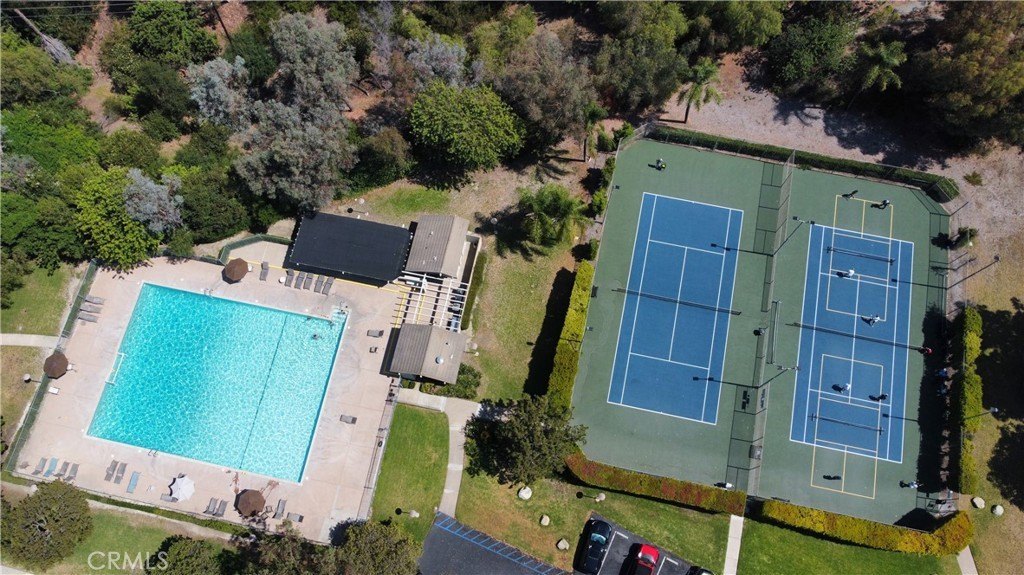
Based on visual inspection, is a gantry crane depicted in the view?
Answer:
No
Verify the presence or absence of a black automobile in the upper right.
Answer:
No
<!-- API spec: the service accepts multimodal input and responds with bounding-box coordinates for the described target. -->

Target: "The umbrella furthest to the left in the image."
[46,353,71,378]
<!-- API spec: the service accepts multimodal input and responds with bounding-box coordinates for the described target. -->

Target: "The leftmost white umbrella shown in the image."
[170,475,196,502]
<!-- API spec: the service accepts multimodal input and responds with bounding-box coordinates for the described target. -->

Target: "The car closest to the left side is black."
[577,520,611,575]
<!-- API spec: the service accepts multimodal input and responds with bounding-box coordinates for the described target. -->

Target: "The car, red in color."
[630,542,658,575]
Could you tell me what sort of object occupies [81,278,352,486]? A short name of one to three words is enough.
swimming pool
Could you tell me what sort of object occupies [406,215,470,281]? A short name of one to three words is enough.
building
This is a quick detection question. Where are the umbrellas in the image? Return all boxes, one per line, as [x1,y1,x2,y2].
[225,259,249,281]
[237,488,266,517]
[46,353,71,378]
[170,475,196,502]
